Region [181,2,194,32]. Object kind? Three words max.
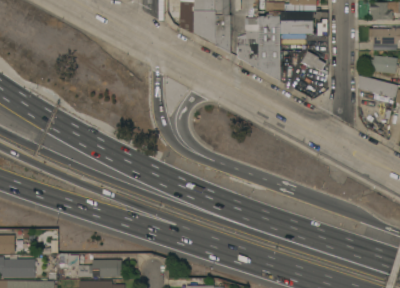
building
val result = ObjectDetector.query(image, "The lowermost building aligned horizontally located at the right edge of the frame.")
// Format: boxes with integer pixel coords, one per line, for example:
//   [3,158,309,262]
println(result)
[358,75,400,100]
